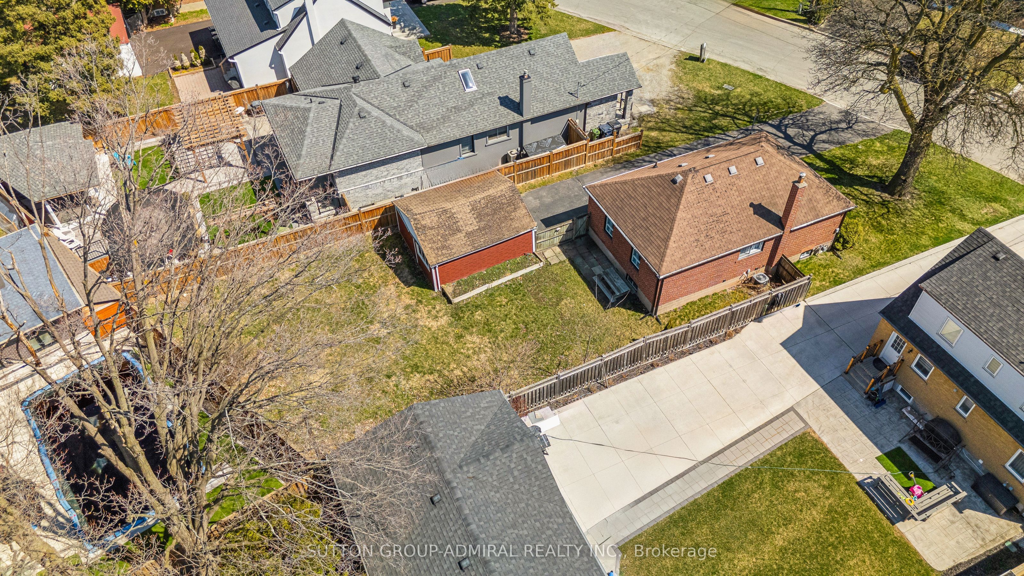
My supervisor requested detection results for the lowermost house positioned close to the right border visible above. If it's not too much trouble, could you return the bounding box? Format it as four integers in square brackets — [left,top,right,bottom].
[842,227,1024,508]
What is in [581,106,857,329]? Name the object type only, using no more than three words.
house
